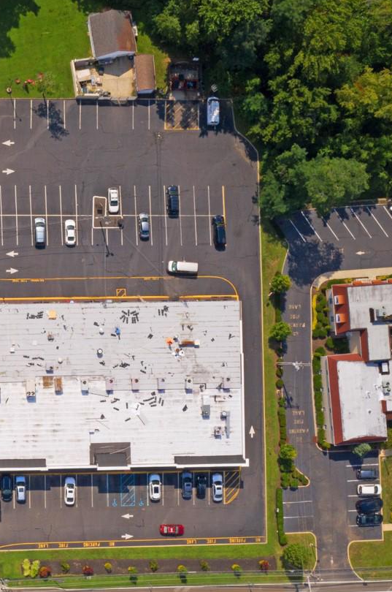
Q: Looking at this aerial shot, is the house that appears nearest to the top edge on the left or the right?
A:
left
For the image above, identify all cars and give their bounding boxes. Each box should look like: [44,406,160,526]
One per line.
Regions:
[212,216,226,248]
[107,186,121,213]
[210,473,224,501]
[179,472,194,500]
[354,484,383,496]
[64,476,77,505]
[64,218,77,245]
[148,474,162,502]
[353,513,384,527]
[138,212,150,241]
[0,475,13,502]
[158,524,185,538]
[14,475,26,502]
[354,467,378,480]
[353,499,383,513]
[33,217,46,248]
[194,473,208,498]
[166,184,180,216]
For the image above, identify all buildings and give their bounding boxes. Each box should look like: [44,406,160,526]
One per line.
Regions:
[86,8,142,61]
[0,300,252,475]
[319,277,392,446]
[131,53,155,96]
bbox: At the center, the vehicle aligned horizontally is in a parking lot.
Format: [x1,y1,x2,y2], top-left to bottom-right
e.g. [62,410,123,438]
[167,261,200,274]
